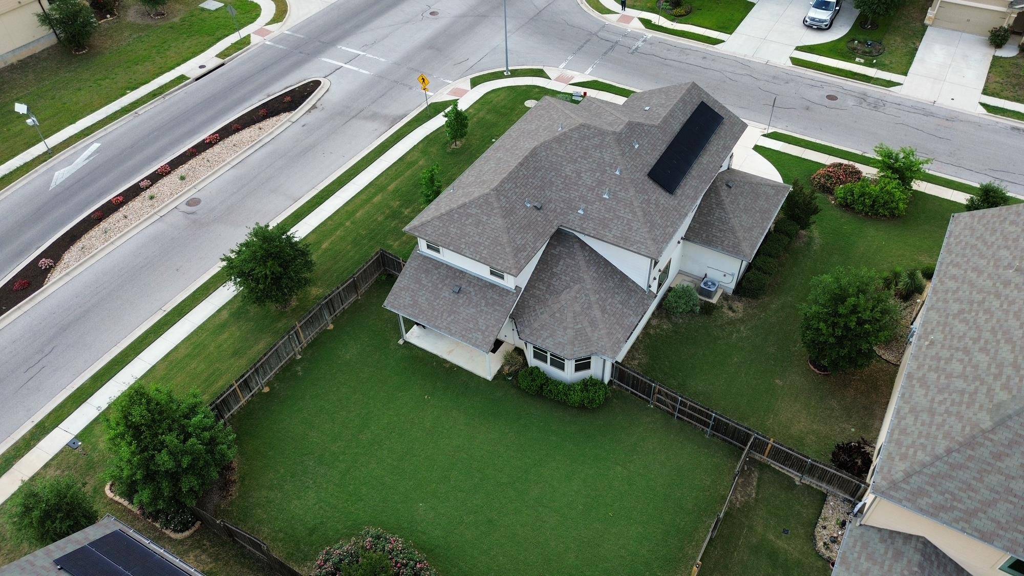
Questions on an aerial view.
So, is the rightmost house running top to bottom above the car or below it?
below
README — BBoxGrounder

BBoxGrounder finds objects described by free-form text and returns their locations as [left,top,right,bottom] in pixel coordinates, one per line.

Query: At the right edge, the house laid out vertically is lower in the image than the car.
[826,208,1024,576]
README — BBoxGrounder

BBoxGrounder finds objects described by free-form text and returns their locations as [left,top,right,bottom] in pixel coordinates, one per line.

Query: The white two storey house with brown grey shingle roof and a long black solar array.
[380,80,793,382]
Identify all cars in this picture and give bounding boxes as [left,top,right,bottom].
[804,0,844,29]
